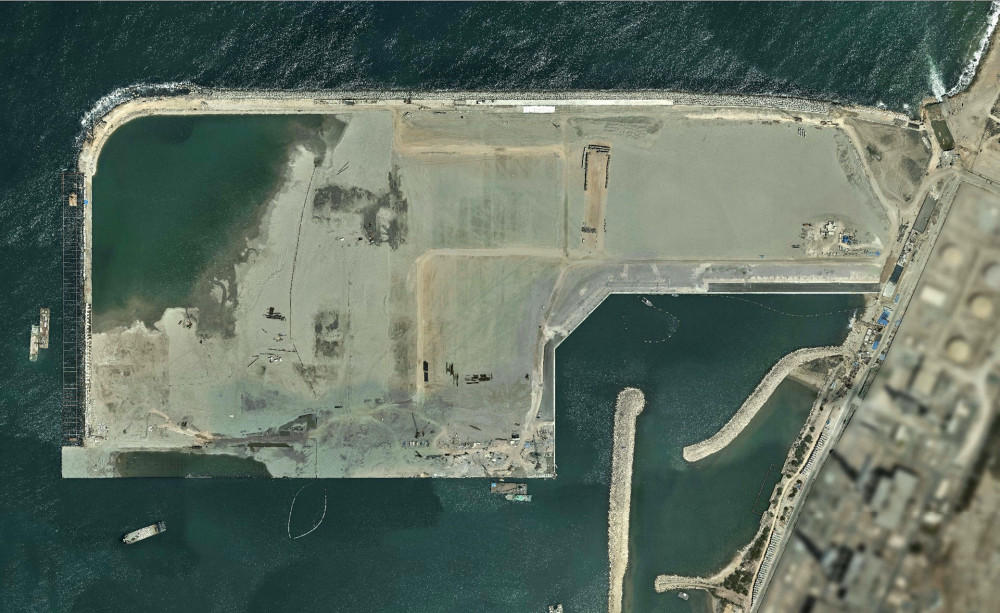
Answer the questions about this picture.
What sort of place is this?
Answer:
port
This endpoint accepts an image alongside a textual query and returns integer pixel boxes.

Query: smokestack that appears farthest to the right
[918,389,938,413]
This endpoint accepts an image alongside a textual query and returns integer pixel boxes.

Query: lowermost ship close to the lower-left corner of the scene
[123,520,167,543]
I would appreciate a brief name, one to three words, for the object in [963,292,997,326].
storage tank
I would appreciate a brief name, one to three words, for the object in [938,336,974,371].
storage tank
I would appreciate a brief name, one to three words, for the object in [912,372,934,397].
building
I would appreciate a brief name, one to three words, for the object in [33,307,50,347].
ship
